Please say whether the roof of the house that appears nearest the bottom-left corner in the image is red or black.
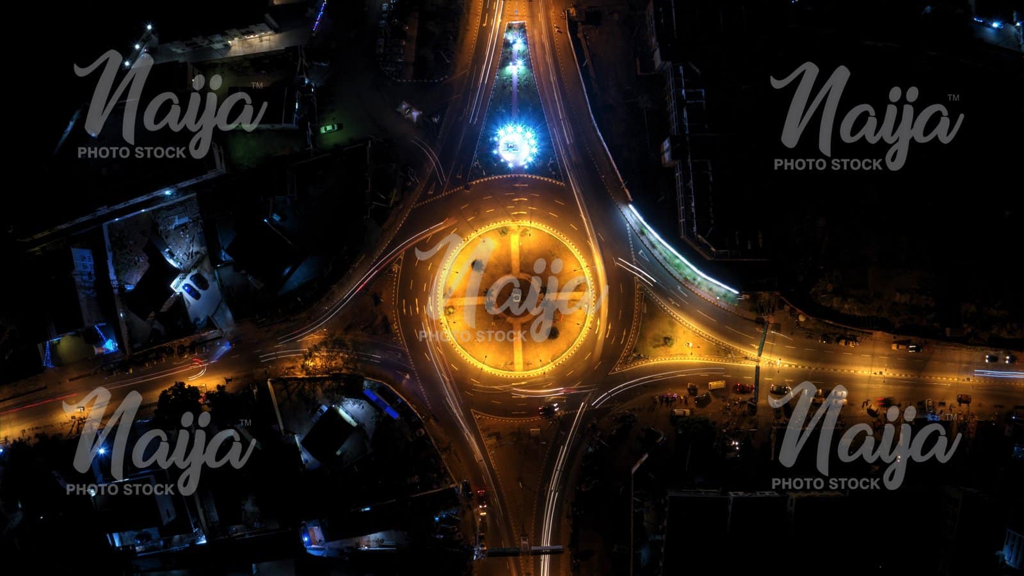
black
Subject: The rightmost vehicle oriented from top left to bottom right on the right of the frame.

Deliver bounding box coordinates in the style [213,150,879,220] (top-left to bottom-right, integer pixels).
[864,405,882,419]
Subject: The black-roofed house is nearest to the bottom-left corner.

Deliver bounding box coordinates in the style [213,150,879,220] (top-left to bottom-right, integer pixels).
[10,465,90,576]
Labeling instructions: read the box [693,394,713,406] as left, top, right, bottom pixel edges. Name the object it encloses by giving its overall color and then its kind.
black vehicle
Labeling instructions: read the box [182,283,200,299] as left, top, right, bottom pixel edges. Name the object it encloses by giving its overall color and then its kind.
blue car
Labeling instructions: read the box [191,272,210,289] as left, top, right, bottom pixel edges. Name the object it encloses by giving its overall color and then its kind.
black car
